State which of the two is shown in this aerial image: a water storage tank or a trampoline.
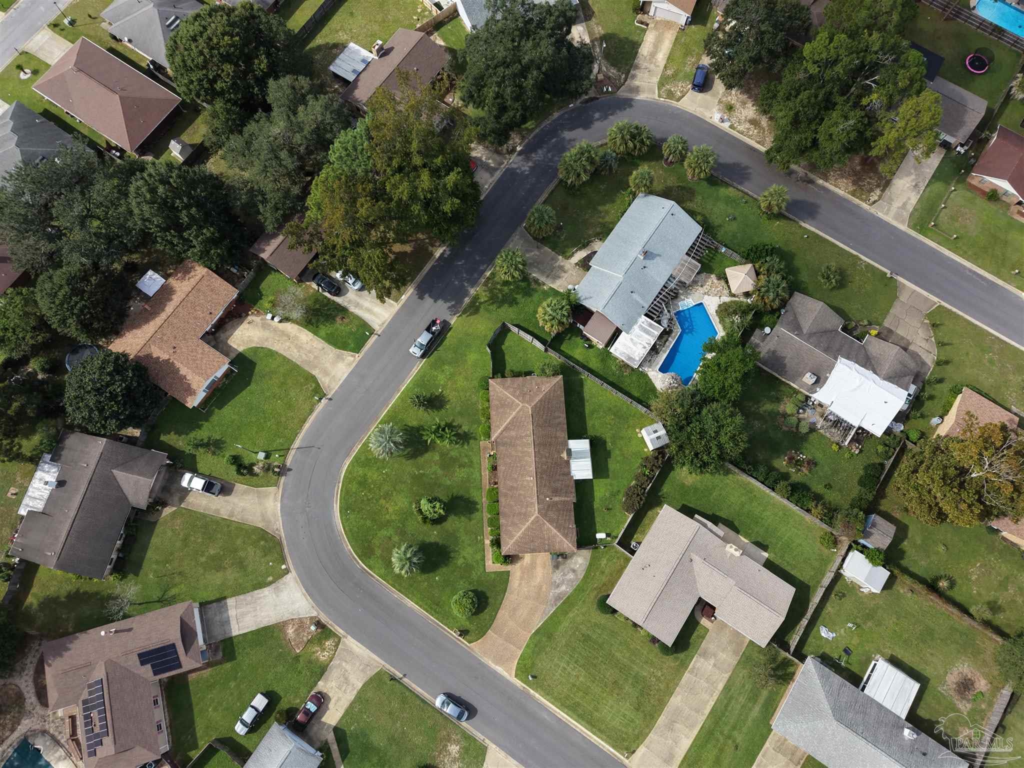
trampoline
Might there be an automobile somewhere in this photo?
Yes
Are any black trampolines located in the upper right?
Yes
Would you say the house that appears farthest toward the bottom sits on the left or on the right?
left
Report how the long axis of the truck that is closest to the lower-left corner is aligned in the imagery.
on a diagonal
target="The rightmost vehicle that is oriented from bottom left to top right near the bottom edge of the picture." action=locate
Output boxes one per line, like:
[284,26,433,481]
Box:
[293,691,325,731]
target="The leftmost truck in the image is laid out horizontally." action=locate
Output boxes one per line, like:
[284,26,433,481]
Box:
[179,472,225,496]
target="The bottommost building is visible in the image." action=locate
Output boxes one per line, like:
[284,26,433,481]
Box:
[242,720,328,768]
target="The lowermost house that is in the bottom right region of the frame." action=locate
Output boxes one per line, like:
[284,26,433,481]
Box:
[769,656,976,768]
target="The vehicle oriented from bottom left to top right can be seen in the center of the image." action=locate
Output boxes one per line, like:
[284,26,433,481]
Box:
[409,315,447,358]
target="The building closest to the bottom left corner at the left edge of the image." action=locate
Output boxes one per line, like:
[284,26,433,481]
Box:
[42,600,209,768]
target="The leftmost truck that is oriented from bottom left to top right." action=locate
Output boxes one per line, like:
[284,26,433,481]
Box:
[233,691,274,735]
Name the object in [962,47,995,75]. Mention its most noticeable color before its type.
black trampoline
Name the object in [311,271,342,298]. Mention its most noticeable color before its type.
black car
